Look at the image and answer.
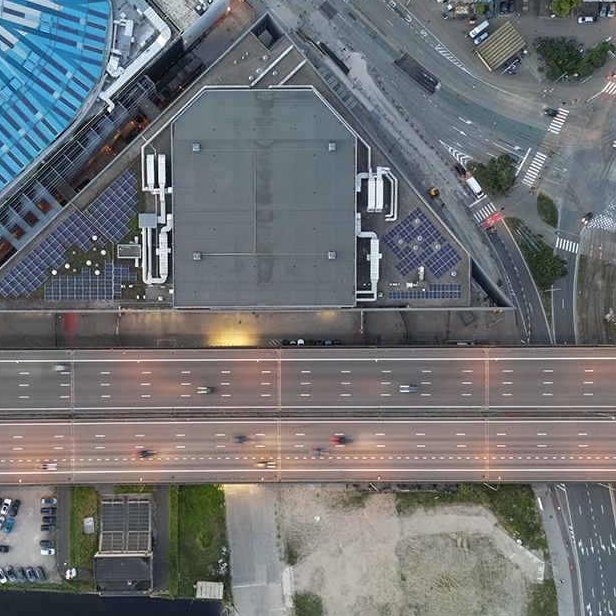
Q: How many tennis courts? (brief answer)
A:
0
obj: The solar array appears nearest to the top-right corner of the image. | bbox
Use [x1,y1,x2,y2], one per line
[383,210,454,270]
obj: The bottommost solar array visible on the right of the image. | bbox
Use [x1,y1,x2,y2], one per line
[389,285,462,298]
